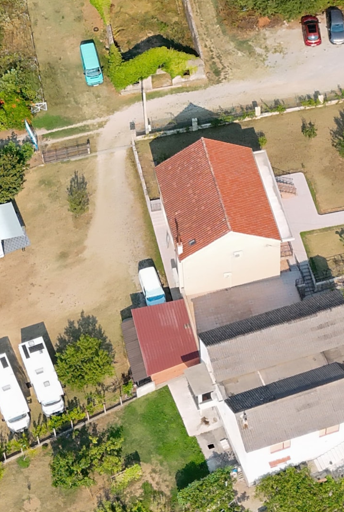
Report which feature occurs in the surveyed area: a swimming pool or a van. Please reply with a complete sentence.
This aerial view contains a van.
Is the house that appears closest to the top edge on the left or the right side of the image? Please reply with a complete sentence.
The house that appears closest to the top edge is on the right side of the image.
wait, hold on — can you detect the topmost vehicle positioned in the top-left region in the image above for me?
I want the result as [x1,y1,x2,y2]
[79,41,105,86]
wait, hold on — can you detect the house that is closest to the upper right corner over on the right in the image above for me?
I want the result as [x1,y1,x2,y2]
[155,139,294,289]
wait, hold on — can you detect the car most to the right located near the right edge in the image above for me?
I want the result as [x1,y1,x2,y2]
[325,9,344,46]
